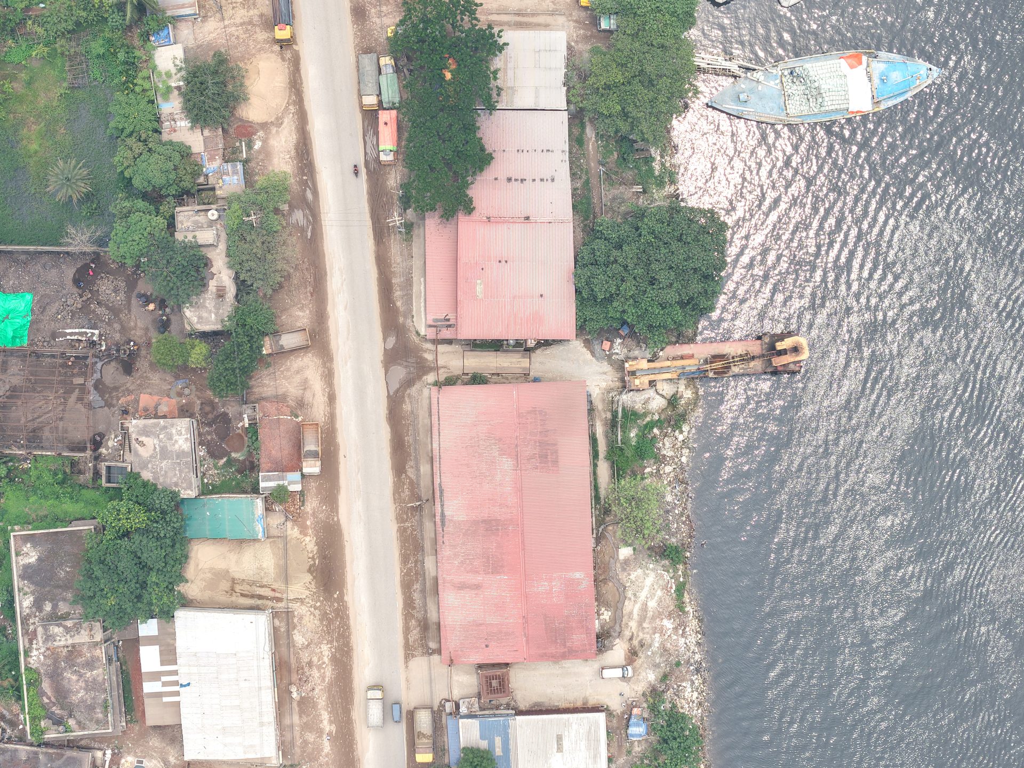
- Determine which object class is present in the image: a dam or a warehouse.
warehouse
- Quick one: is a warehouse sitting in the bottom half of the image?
Yes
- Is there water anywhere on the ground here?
Yes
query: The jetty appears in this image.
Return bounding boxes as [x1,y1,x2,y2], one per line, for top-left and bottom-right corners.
[691,52,779,76]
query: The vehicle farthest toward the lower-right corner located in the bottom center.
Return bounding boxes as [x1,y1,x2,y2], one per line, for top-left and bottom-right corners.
[599,662,633,680]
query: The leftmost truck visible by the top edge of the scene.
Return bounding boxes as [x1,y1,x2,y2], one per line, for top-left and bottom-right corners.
[273,0,297,54]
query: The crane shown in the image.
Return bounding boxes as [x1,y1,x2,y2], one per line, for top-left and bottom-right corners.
[688,336,808,372]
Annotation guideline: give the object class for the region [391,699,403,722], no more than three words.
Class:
vehicle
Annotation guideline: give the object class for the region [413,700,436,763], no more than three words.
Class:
truck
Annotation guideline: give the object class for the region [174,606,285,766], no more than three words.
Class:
building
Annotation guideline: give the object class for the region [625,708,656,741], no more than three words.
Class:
shed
